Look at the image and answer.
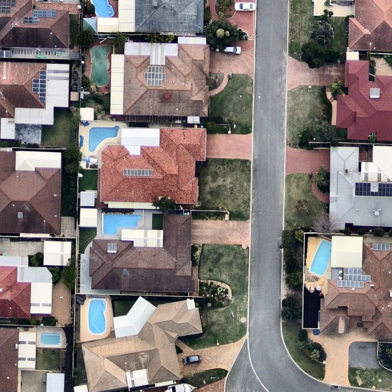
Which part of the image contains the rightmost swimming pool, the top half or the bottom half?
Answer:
bottom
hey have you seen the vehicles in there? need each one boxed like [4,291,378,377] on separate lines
[182,354,202,364]
[234,2,255,11]
[222,46,242,55]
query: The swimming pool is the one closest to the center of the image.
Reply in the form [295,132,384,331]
[102,214,143,236]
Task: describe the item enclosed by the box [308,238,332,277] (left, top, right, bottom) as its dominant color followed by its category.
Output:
blue swimming pool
